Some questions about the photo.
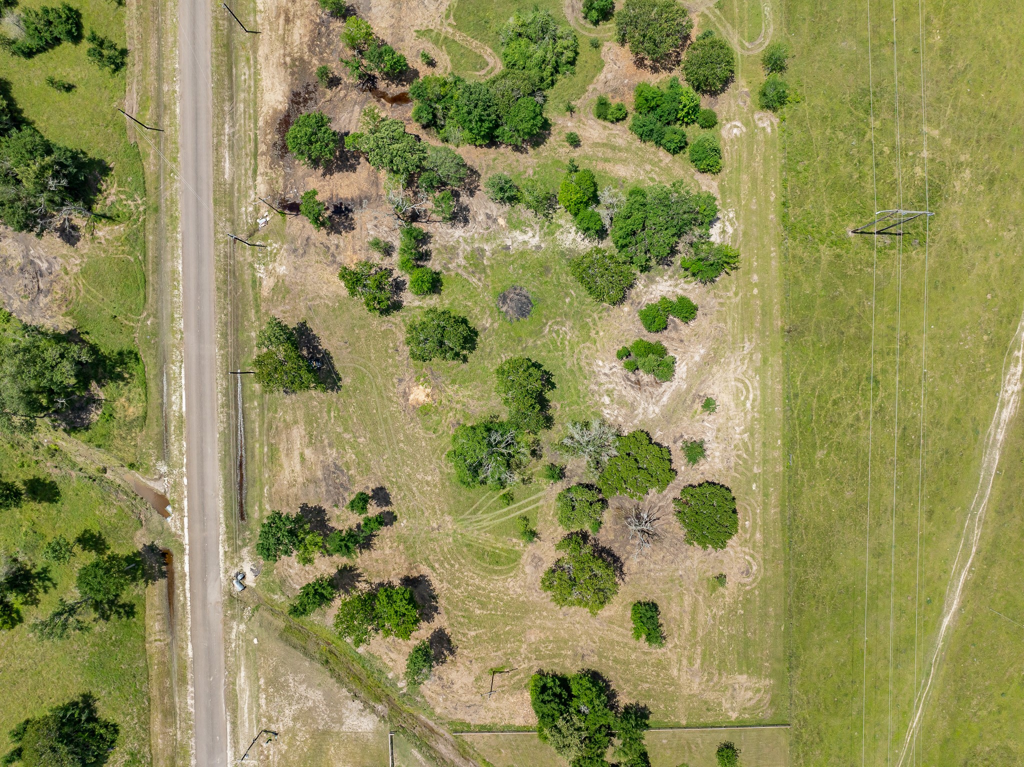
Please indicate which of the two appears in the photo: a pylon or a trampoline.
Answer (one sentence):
This aerial view contains a pylon.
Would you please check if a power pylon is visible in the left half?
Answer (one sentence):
No, there's no power pylon to be seen in the left half.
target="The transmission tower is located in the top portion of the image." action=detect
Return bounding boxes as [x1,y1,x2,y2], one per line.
[850,209,934,234]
